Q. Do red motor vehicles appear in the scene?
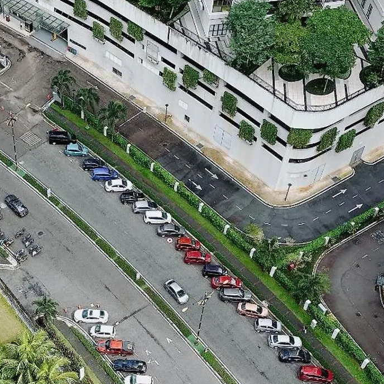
Yes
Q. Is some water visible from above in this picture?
No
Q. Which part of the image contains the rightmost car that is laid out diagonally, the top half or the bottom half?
bottom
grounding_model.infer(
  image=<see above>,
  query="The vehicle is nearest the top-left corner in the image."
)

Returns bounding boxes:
[48,133,76,145]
